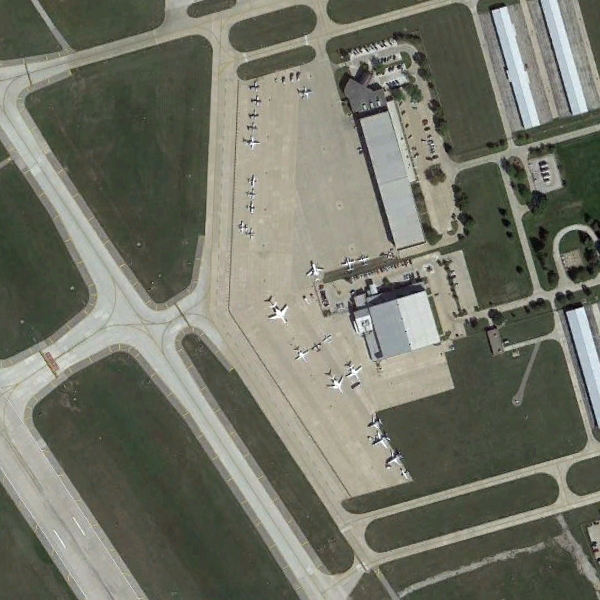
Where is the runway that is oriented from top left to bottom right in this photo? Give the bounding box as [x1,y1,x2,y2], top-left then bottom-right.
[0,386,141,600]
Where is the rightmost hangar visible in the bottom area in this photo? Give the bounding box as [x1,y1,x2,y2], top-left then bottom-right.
[566,306,600,431]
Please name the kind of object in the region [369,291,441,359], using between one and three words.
hangar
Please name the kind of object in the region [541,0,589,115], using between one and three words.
hangar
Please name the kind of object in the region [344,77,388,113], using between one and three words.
building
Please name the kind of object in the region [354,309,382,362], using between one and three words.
building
